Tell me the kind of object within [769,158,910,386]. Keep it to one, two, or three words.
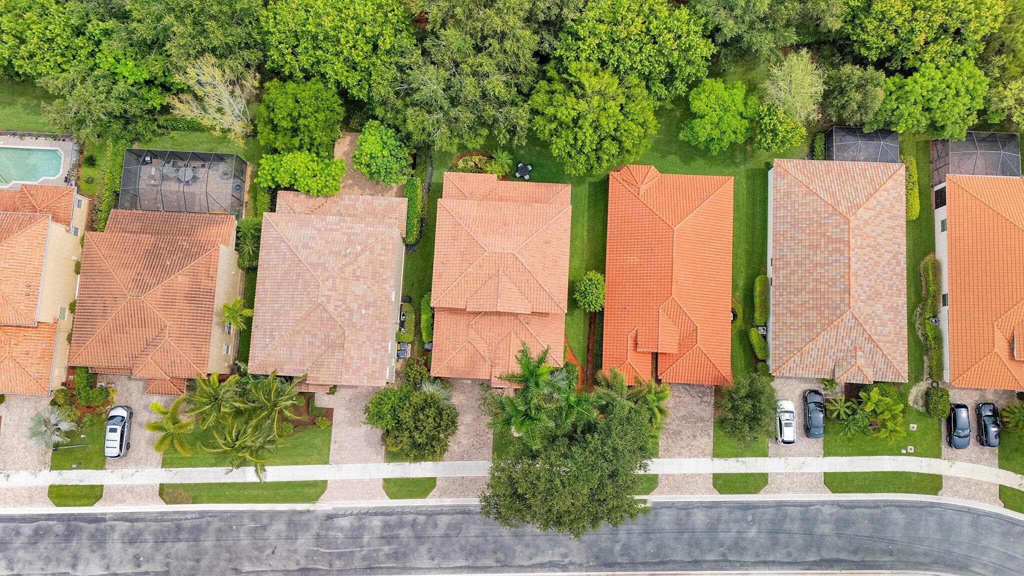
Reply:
house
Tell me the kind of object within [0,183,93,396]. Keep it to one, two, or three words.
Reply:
house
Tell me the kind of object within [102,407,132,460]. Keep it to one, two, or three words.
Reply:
car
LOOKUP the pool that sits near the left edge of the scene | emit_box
[0,145,64,187]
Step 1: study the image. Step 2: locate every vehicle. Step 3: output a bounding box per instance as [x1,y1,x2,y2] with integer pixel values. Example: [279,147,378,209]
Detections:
[102,407,132,460]
[974,403,1003,449]
[945,404,974,450]
[803,391,826,440]
[774,401,799,447]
